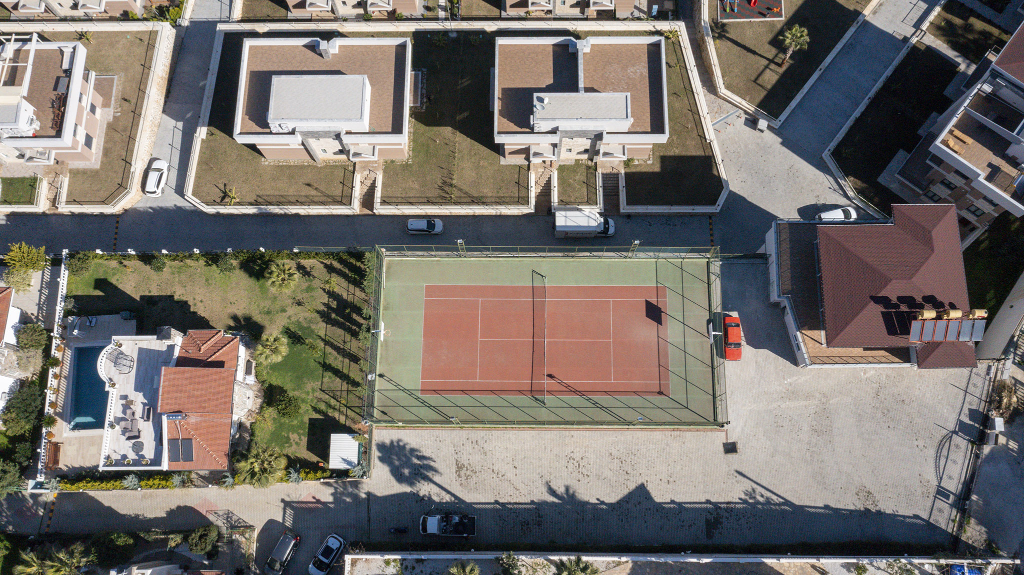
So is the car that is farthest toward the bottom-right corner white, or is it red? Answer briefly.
red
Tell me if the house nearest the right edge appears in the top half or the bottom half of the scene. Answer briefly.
top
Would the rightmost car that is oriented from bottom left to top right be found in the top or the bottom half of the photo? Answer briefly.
bottom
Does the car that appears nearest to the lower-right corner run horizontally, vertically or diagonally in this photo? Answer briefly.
vertically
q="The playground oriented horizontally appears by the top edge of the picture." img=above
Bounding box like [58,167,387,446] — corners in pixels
[718,0,785,20]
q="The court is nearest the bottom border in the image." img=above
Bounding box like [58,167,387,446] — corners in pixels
[371,255,718,428]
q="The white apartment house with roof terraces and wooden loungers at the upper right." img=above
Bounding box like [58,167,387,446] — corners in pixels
[876,27,1024,263]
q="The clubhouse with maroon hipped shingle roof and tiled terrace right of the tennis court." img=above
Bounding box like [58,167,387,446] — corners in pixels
[750,203,976,373]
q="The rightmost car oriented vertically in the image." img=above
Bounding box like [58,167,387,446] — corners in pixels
[725,315,747,361]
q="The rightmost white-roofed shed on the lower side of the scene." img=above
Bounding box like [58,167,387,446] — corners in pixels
[329,434,362,469]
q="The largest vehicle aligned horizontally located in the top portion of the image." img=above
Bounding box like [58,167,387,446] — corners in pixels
[554,212,612,239]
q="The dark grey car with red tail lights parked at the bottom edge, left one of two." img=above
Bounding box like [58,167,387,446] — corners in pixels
[260,527,303,575]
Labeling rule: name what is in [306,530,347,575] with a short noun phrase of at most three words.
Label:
car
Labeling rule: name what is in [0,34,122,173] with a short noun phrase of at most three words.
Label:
house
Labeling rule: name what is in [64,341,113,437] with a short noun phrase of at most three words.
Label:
swimming pool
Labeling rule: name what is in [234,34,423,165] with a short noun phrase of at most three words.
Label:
house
